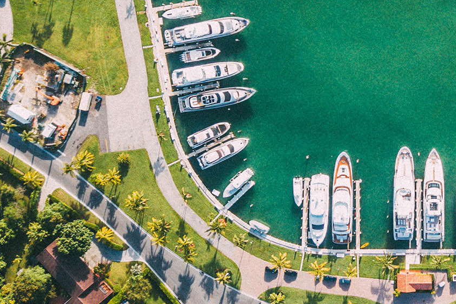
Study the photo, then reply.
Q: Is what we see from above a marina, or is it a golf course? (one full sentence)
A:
What you see here is a marina.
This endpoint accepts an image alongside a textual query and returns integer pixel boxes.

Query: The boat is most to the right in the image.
[420,149,444,241]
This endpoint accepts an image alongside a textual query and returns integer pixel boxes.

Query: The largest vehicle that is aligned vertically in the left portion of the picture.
[80,90,92,113]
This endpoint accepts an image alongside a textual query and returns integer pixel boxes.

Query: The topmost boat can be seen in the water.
[163,5,201,19]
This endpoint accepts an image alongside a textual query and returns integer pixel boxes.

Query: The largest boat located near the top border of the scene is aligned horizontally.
[163,13,249,46]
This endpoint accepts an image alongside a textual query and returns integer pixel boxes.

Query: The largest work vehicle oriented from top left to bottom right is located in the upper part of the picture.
[37,88,62,106]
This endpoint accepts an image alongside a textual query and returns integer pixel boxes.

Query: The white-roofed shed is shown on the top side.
[7,100,38,125]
